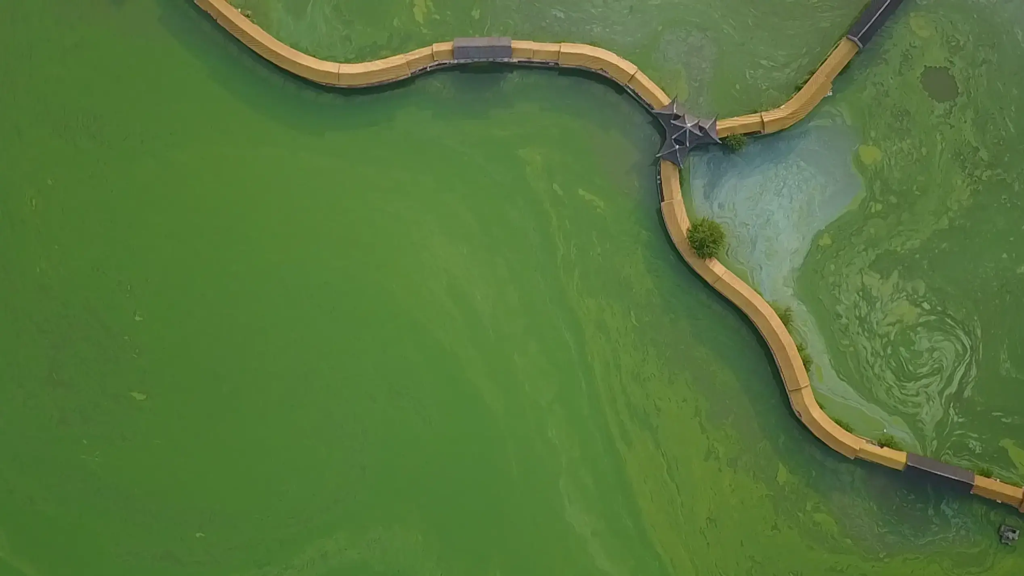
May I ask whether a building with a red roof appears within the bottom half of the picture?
No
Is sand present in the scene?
No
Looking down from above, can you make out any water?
Yes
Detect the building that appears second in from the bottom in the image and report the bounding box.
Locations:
[651,92,724,169]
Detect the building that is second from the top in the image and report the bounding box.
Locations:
[454,36,512,69]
